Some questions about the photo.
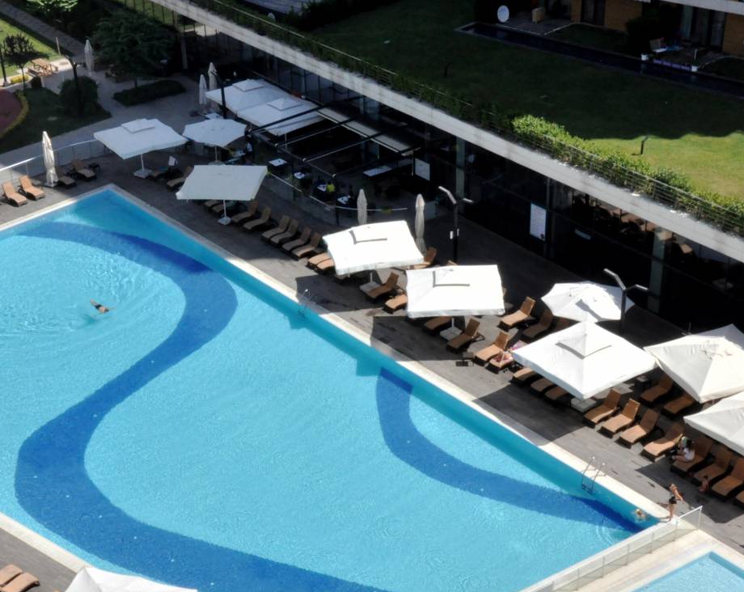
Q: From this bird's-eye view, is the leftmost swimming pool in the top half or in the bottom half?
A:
bottom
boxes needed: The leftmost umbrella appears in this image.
[42,131,57,187]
